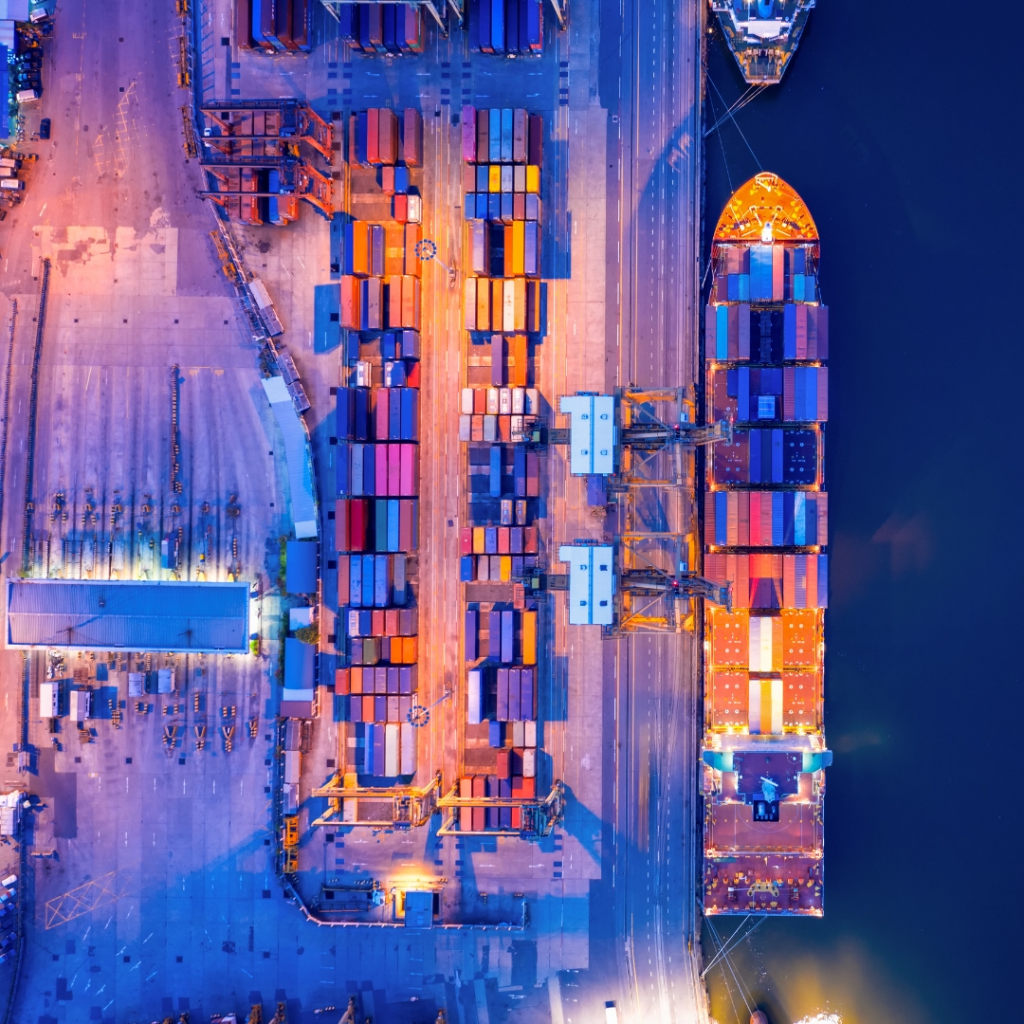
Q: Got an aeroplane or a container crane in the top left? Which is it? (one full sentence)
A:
What appears in the top left is a container crane.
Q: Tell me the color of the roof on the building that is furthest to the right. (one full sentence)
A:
The roof of the building that is furthest to the right is blue.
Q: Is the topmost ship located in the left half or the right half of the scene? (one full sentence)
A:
The topmost ship appears in the right half of the scene.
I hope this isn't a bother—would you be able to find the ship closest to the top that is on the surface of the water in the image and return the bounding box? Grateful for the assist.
[712,0,815,90]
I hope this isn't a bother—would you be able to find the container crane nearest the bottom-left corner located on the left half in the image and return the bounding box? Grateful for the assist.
[309,765,445,834]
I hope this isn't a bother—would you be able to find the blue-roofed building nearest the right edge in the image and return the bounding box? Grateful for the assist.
[405,883,437,929]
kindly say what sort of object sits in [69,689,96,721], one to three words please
building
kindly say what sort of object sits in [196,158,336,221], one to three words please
container crane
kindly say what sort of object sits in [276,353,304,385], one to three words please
building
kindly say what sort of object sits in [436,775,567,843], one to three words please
container crane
